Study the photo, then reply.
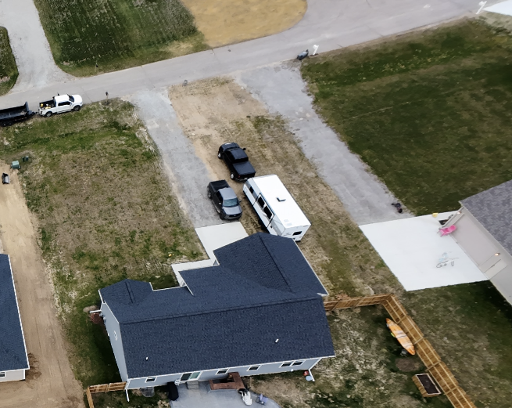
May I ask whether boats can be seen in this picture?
Yes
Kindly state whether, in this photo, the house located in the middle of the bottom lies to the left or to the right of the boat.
left of it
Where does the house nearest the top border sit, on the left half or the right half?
right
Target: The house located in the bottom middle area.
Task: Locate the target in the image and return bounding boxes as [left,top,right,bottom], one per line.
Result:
[97,231,336,403]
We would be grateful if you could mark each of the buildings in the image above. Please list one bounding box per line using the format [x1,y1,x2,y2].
[441,182,512,304]
[0,252,29,384]
[97,231,336,403]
